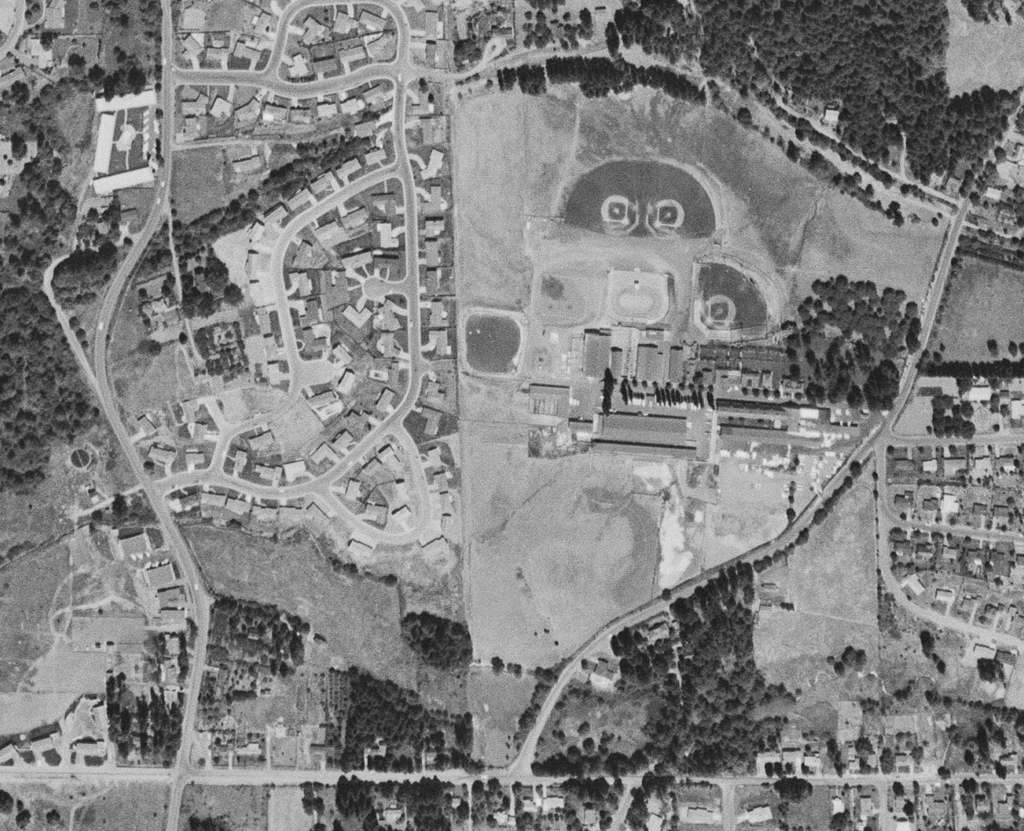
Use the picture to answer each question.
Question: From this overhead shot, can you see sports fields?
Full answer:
Yes, this view includes a sports field.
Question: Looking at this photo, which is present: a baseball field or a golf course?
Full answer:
Of the two, only a baseball field appears.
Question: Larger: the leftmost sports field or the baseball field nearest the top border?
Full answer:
The baseball field covers a greater area than the sports field.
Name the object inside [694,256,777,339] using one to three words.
baseball field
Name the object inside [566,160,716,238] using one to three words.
baseball field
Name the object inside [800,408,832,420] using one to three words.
building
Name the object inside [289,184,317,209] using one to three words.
house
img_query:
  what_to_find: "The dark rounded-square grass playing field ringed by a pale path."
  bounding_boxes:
[466,314,520,372]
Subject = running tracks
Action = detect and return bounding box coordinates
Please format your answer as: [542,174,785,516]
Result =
[609,271,675,322]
